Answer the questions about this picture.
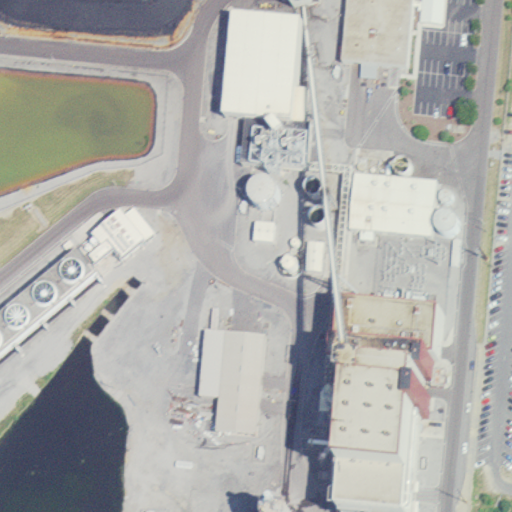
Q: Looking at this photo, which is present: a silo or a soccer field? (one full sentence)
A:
It is a silo that can be seen here.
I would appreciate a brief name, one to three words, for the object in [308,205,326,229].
silo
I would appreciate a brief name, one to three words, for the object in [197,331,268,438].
building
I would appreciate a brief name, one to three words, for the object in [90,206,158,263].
building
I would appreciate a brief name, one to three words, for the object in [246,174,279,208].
storage tank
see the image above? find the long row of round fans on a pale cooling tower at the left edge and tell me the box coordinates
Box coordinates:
[0,243,119,372]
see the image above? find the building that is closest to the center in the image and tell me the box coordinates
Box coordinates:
[253,221,276,244]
